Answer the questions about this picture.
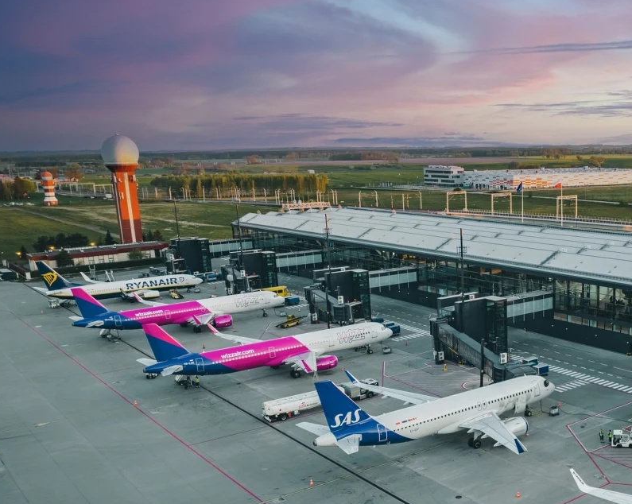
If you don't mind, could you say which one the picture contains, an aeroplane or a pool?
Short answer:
aeroplane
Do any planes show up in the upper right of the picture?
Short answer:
No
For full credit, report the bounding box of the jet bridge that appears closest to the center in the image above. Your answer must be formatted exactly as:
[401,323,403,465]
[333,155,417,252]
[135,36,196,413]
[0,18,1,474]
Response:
[291,290,349,334]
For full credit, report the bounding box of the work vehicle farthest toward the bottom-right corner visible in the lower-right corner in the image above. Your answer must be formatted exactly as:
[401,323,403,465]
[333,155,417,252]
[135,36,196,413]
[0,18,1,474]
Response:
[611,431,632,449]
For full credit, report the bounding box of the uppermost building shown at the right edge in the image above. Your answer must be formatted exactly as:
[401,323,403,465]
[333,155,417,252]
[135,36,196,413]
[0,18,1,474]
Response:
[464,167,632,190]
